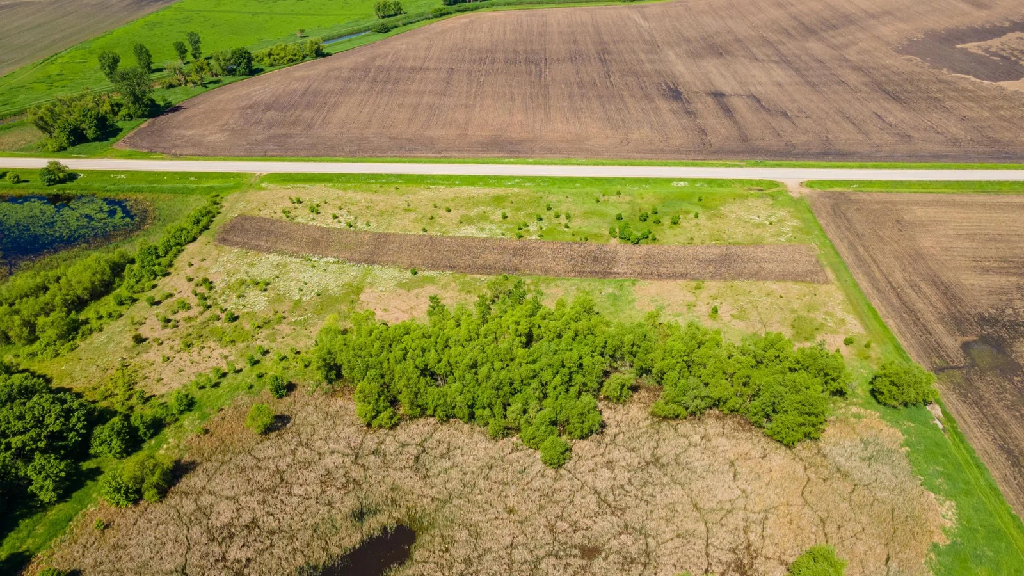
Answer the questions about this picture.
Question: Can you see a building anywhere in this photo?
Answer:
No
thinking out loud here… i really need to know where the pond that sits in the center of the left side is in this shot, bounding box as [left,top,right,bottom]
[0,193,145,274]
